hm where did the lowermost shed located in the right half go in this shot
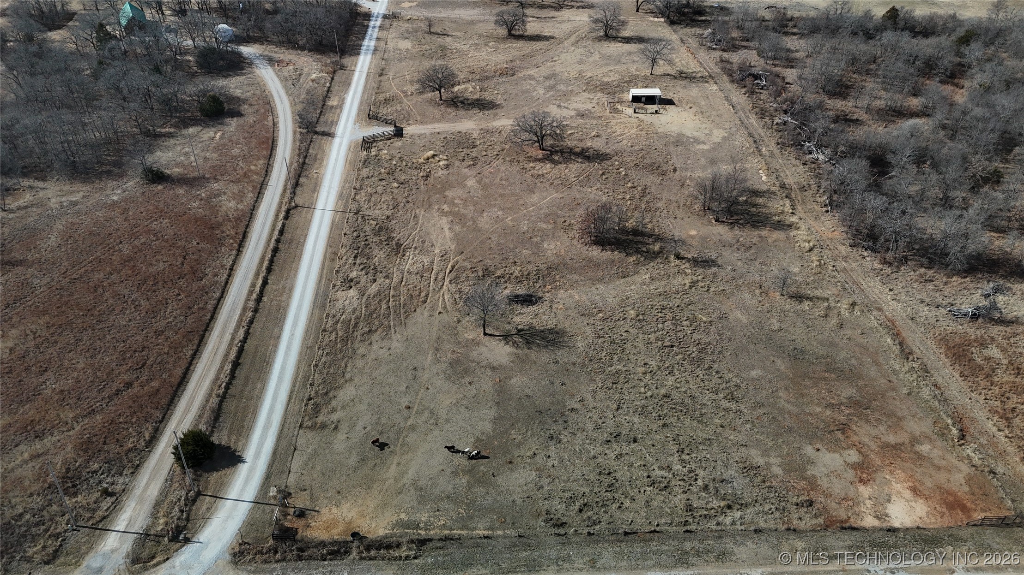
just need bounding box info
[629,84,664,102]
